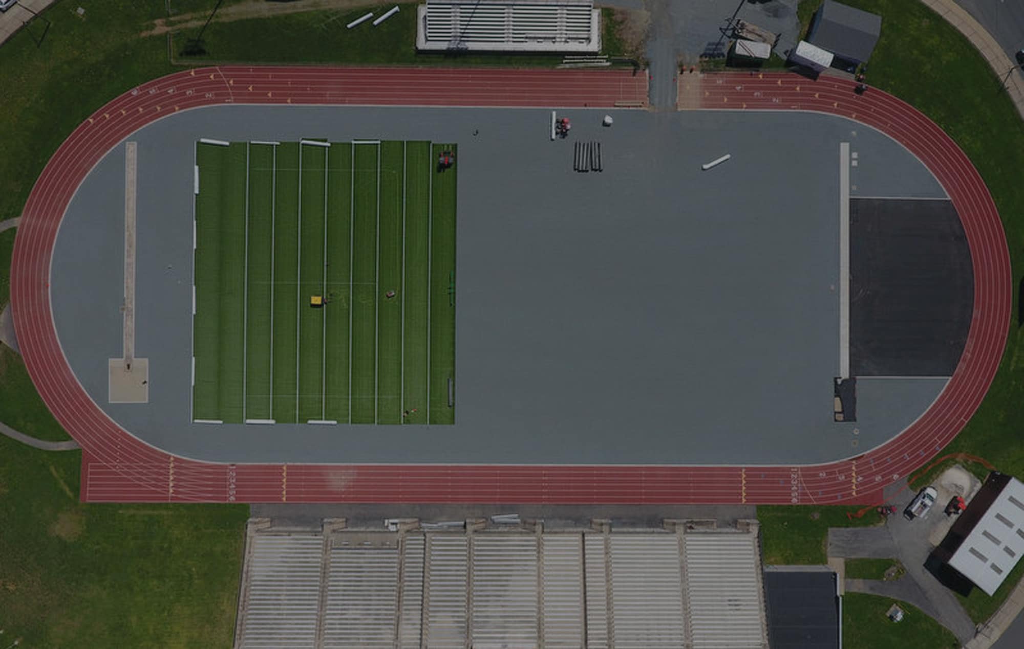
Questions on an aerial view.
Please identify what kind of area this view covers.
sports ground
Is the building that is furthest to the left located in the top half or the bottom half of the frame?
bottom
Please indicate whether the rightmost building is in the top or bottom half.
bottom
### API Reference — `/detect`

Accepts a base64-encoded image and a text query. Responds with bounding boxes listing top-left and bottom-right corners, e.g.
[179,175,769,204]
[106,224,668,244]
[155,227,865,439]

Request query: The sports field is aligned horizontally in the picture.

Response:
[51,105,948,464]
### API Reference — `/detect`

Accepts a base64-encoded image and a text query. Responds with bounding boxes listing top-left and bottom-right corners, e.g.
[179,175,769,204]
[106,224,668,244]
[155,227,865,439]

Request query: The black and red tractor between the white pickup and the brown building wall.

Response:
[938,492,967,514]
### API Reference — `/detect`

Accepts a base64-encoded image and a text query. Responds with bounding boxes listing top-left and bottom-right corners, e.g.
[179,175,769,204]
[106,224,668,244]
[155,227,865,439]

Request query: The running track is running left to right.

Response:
[10,65,1013,505]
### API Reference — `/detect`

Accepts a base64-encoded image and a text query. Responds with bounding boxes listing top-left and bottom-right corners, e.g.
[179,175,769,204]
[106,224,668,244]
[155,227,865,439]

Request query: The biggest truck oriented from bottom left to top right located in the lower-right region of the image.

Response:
[905,485,935,521]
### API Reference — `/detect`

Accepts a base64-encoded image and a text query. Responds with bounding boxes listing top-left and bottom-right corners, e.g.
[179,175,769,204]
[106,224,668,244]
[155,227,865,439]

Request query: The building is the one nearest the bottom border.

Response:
[762,565,843,649]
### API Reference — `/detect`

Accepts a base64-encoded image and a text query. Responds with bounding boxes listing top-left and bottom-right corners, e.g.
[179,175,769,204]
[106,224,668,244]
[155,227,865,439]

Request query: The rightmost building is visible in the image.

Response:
[931,469,1024,597]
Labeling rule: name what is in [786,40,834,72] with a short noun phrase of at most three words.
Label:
trailer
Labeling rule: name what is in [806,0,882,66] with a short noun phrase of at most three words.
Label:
shed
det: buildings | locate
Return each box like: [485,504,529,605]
[762,565,843,649]
[806,0,882,66]
[931,469,1024,597]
